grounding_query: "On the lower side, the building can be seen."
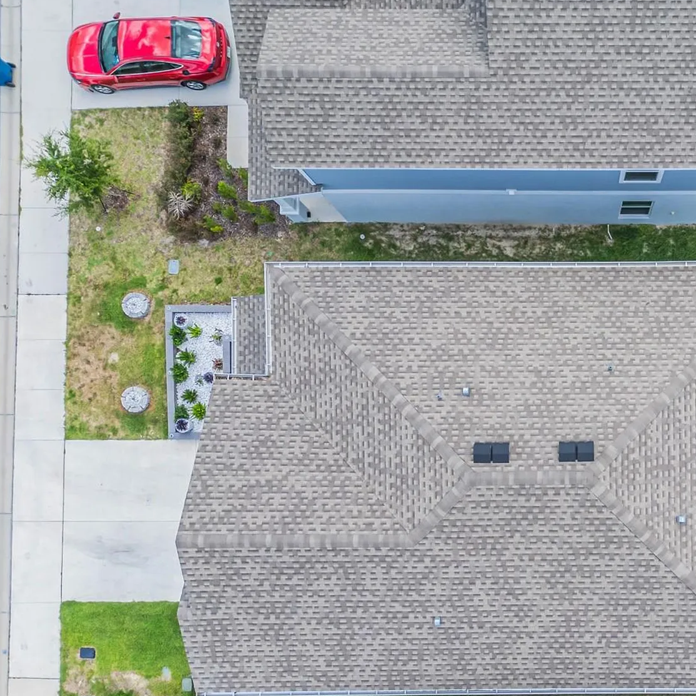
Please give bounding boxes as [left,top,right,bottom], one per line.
[177,261,696,696]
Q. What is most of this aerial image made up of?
buildings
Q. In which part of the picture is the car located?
top left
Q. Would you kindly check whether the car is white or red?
red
